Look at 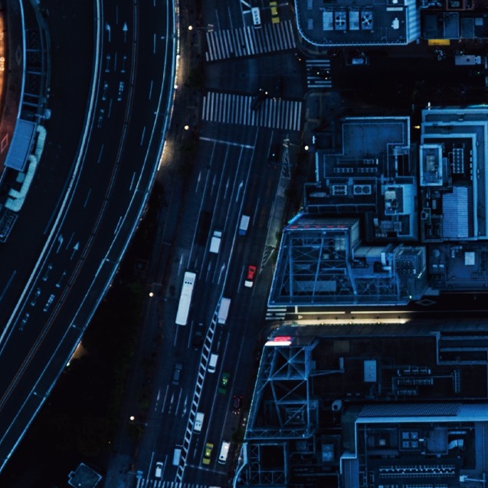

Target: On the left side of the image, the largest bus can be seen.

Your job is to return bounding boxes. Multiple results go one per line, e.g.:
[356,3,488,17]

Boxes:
[174,271,195,326]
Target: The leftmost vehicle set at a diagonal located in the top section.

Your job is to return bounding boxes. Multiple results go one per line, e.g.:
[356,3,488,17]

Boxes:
[250,91,268,113]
